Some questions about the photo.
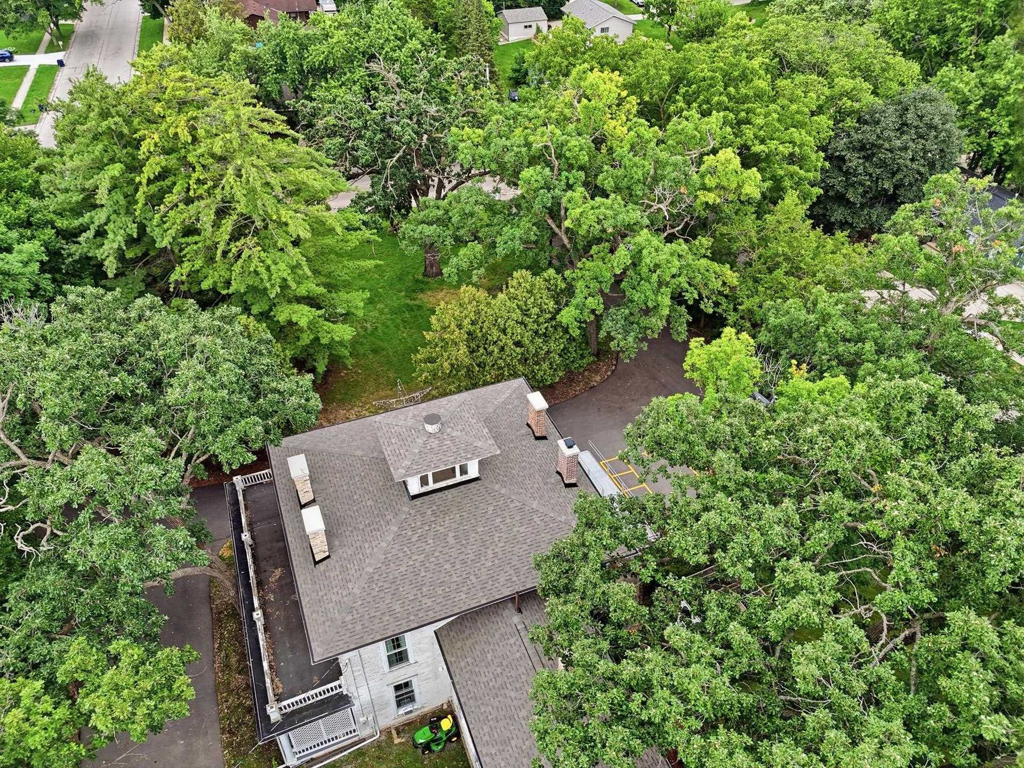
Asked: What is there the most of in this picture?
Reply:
trees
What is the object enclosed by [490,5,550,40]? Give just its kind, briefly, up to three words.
shed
